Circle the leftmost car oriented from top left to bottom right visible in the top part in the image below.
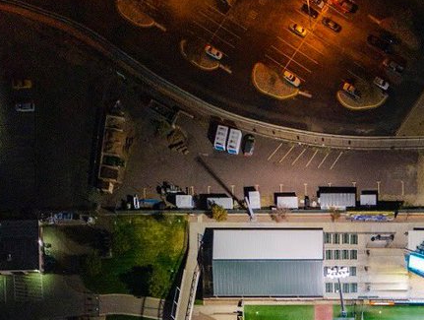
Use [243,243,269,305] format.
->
[203,45,223,60]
